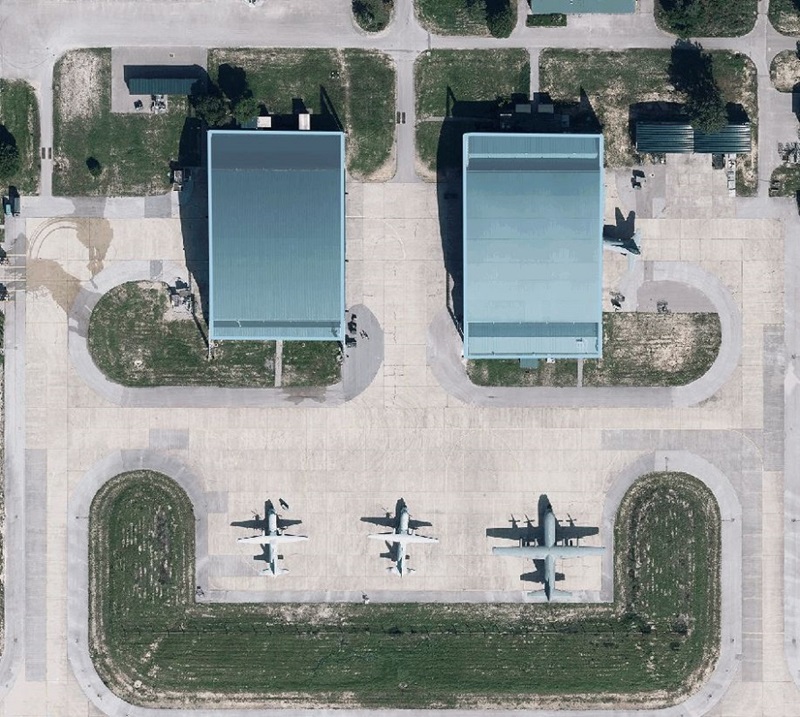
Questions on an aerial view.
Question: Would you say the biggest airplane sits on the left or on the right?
right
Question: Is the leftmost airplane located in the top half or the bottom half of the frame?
bottom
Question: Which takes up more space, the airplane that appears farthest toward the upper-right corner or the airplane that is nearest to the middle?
the airplane that is nearest to the middle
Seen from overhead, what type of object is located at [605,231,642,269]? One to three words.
airplane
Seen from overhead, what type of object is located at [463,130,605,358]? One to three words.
hangar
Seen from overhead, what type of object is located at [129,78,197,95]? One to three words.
shed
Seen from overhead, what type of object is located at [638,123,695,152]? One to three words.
shed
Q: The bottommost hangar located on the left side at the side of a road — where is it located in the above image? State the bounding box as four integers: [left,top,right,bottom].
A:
[207,129,345,362]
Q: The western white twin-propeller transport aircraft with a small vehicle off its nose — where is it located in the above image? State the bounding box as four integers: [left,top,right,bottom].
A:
[238,509,309,577]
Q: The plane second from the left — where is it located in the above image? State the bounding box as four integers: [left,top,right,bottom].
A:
[367,508,439,577]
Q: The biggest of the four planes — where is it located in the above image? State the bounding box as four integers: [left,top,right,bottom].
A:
[493,505,606,601]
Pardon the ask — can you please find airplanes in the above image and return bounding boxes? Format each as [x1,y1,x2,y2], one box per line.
[605,231,642,269]
[238,509,309,577]
[367,508,439,577]
[493,505,606,601]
